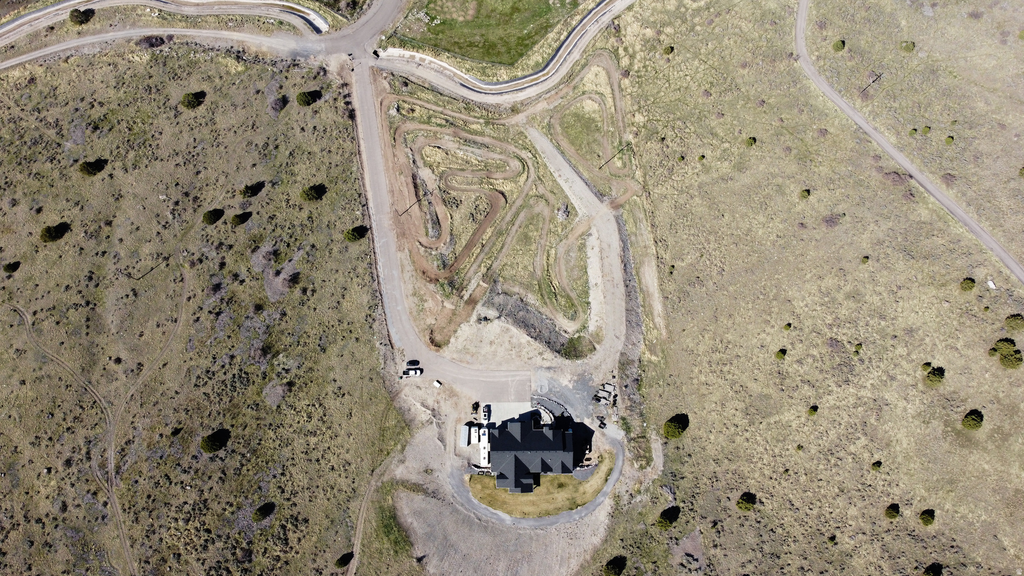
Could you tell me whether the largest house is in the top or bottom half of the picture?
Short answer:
bottom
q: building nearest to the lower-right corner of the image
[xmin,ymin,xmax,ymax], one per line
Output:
[490,421,574,493]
